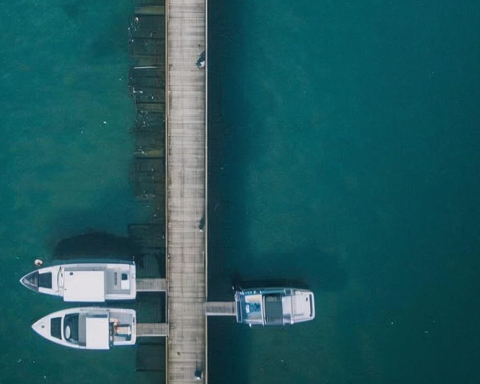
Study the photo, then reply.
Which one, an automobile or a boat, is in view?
boat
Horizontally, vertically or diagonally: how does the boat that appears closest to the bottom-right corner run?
horizontally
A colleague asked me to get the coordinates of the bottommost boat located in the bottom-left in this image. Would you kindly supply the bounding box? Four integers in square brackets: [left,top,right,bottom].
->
[31,301,157,349]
